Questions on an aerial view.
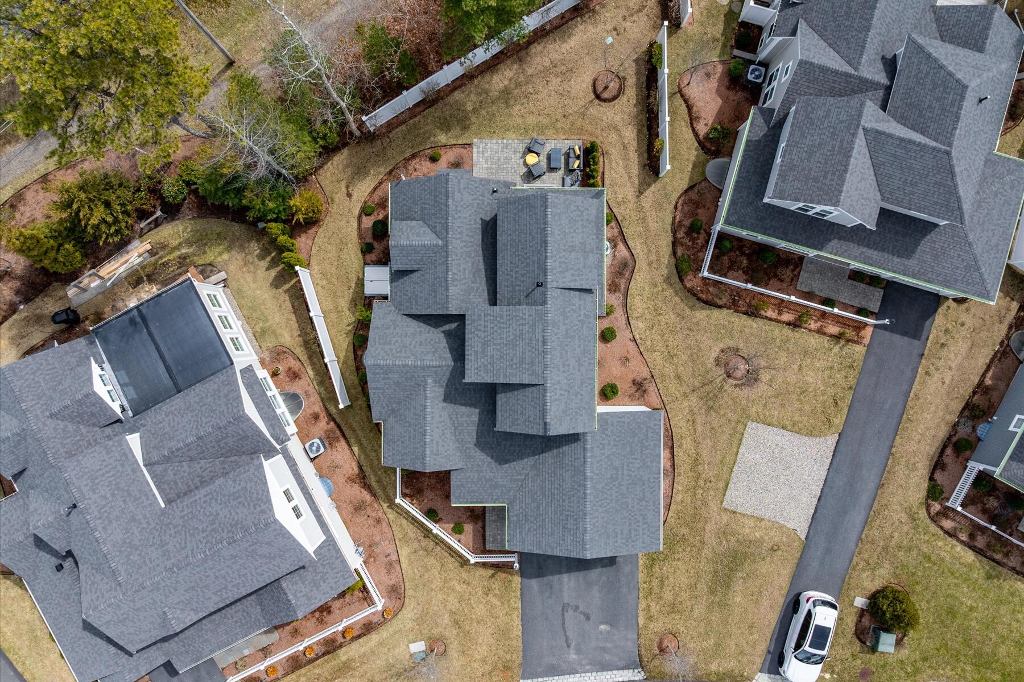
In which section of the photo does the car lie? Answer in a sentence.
You can find the car in the bottom right area of the picture.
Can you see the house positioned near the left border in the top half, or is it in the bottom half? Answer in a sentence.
You can find the house positioned near the left border in the bottom half.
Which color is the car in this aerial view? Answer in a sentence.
The color of the car is white.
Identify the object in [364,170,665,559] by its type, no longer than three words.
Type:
house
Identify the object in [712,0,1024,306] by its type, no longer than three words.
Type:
house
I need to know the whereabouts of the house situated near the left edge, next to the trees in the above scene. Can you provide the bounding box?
[0,274,362,682]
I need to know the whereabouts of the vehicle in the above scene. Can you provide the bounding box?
[778,592,842,682]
